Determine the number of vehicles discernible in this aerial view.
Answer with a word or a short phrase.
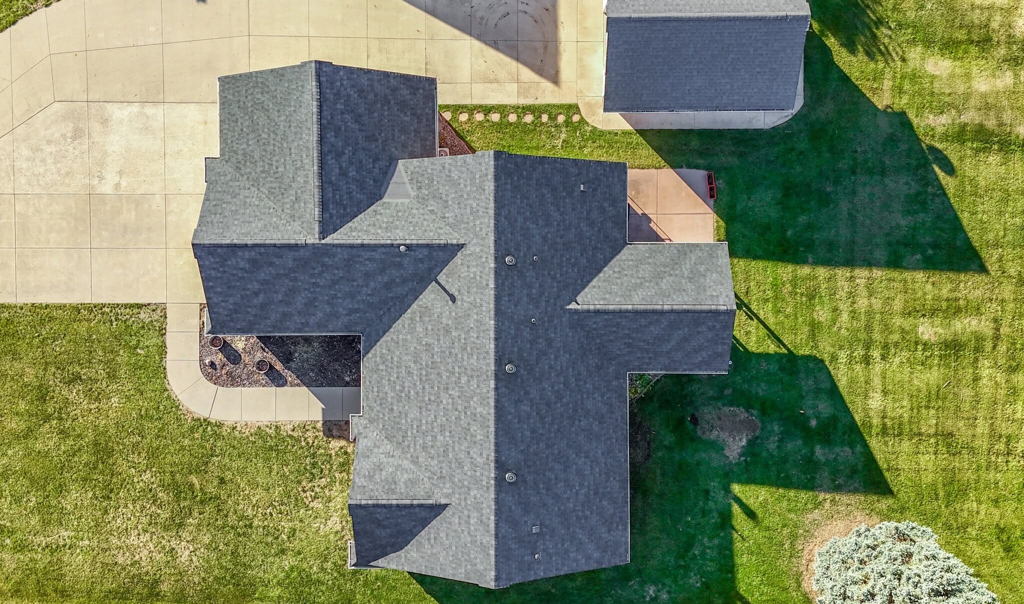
none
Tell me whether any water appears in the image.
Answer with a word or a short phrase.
No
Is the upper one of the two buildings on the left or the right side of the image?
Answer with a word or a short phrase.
right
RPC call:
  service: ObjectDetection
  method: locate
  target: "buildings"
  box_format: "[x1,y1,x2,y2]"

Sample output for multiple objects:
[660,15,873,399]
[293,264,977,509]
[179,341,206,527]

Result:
[603,0,811,113]
[191,61,739,589]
